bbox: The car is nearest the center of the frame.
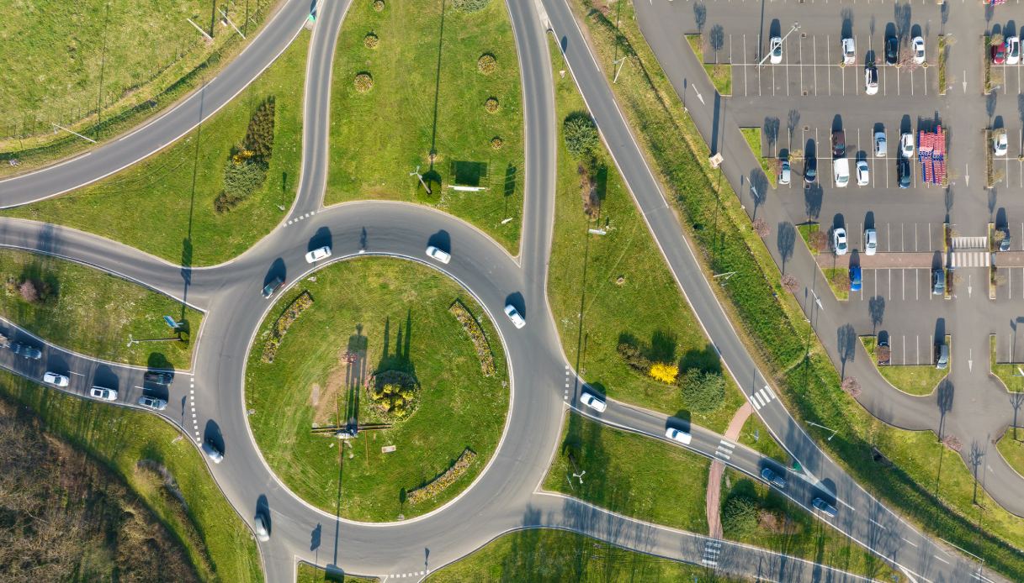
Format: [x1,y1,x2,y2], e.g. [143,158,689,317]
[505,305,527,329]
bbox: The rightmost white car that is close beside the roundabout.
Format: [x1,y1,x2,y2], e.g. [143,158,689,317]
[581,393,606,412]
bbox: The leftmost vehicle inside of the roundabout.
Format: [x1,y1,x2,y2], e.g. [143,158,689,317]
[201,441,224,464]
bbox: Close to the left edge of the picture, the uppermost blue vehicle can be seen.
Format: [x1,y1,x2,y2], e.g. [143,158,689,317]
[12,342,40,358]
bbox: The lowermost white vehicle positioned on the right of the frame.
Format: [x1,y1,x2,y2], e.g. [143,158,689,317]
[664,426,693,445]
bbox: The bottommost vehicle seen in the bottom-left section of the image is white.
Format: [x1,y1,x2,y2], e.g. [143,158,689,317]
[255,515,270,540]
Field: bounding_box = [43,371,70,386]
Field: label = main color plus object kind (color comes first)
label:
white car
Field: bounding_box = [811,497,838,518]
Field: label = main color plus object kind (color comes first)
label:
blue car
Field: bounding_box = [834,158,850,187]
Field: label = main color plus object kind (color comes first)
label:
white vehicle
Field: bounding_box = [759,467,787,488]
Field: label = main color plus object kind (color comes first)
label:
blue car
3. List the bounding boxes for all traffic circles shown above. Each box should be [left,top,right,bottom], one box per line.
[186,199,569,583]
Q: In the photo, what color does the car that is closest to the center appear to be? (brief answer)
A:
white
